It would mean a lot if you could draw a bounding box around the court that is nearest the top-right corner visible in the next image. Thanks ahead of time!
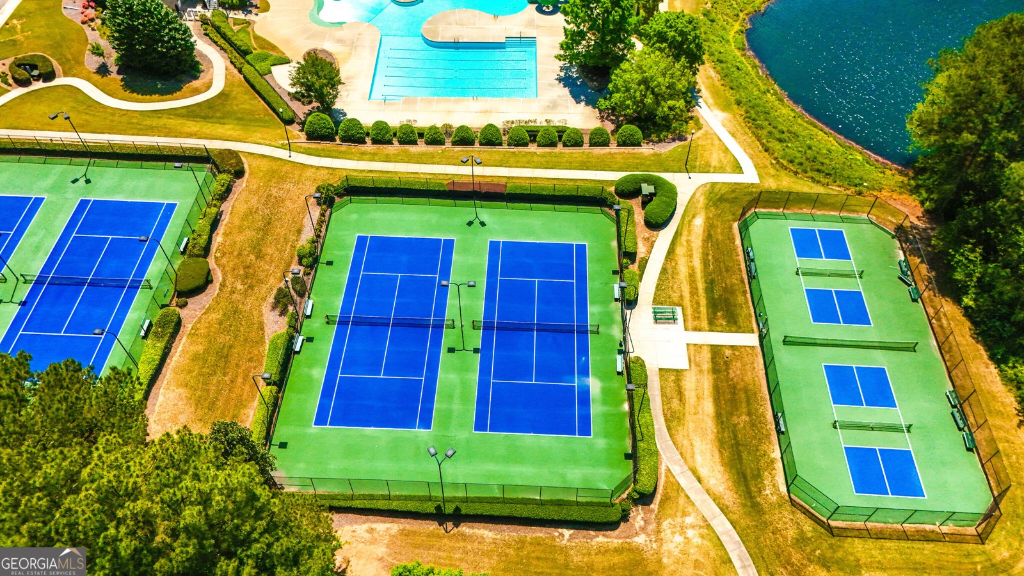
[789,227,874,325]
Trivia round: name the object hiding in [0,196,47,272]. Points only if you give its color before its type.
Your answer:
blue tennis court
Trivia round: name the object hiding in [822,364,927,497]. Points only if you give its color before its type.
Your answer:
blue sports court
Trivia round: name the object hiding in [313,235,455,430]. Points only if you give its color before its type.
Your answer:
blue tennis court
